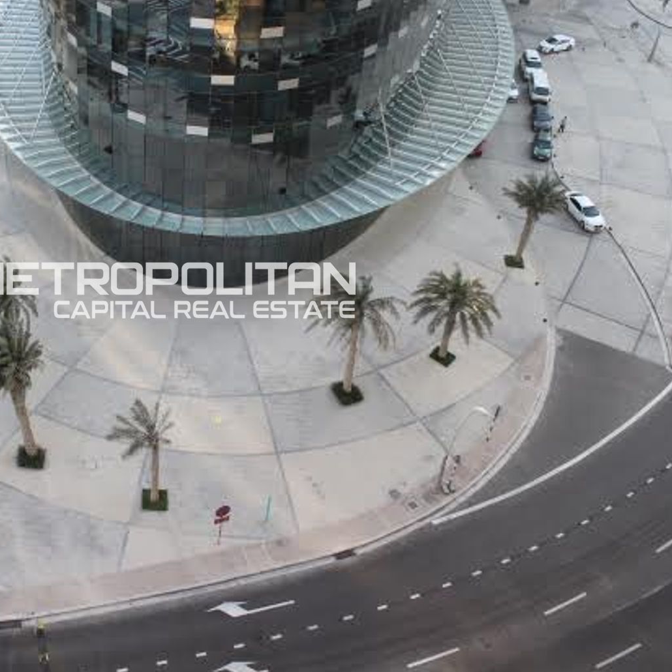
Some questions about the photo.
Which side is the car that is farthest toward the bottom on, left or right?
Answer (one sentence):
You can find the car that is farthest toward the bottom on the right side of the picture.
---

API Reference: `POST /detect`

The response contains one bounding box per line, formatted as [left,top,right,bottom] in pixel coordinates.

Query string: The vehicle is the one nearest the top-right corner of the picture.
[539,36,578,54]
